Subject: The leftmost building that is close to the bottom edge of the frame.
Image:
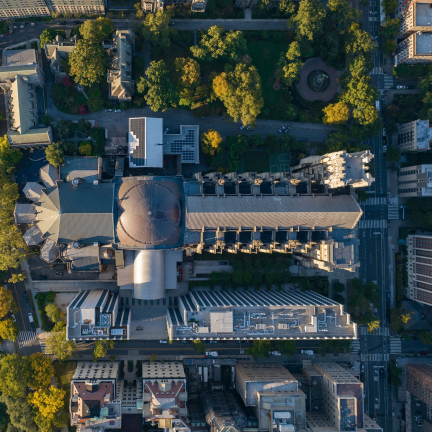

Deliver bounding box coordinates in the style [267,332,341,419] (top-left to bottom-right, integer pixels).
[69,362,126,432]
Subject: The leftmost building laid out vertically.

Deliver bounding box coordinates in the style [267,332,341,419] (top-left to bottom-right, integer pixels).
[0,40,58,150]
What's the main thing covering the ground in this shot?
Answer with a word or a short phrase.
buildings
